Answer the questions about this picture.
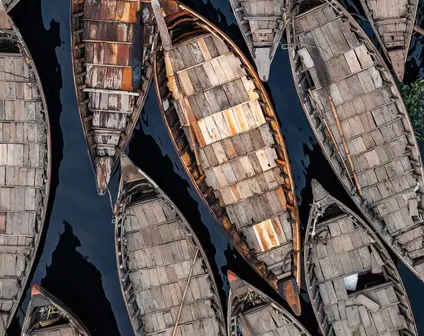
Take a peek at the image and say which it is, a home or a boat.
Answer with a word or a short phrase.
boat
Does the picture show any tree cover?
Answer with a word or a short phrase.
No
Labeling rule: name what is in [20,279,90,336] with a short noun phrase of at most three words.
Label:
boat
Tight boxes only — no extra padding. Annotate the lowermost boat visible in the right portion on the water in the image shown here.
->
[220,265,312,336]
